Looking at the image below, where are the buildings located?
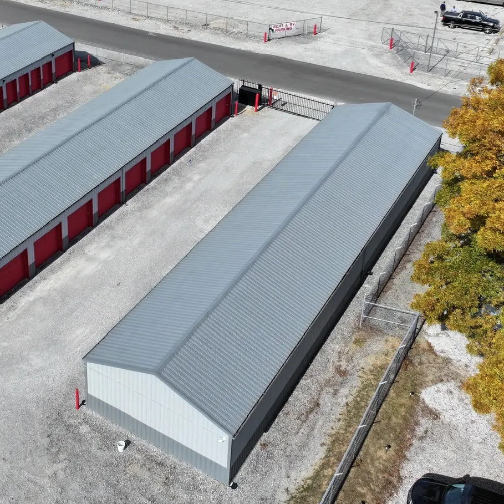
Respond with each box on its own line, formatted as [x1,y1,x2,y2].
[0,20,77,115]
[0,57,235,308]
[81,102,442,484]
